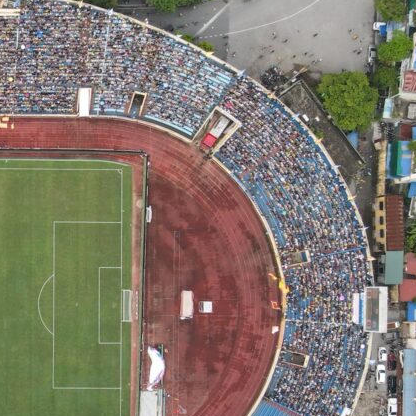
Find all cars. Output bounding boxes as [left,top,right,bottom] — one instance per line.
[374,364,384,383]
[385,374,395,393]
[365,45,376,65]
[385,399,395,416]
[384,352,395,370]
[375,345,386,363]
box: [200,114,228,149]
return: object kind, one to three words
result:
truck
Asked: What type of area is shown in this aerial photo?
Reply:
sports ground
